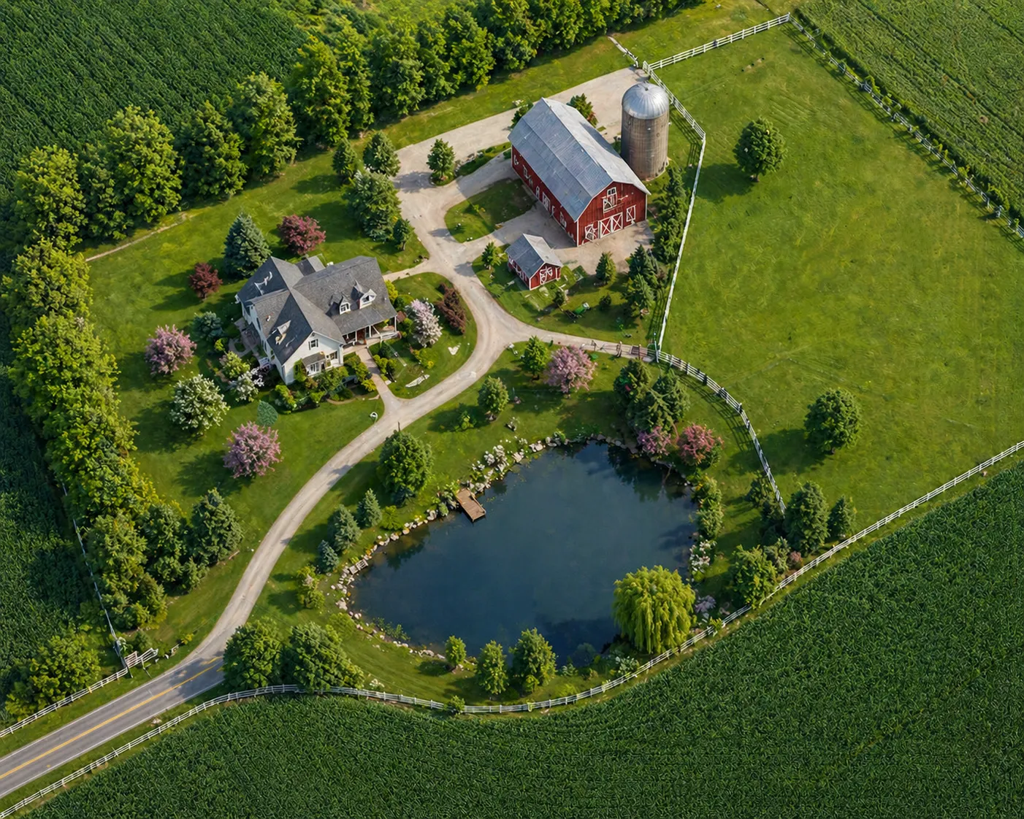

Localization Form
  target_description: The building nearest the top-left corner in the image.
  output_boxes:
[240,253,400,385]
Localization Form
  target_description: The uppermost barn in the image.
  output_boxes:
[502,104,656,246]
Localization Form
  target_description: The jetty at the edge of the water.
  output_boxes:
[455,489,486,524]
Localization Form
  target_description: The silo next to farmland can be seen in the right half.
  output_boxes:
[621,87,672,181]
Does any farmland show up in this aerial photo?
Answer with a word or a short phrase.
Yes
